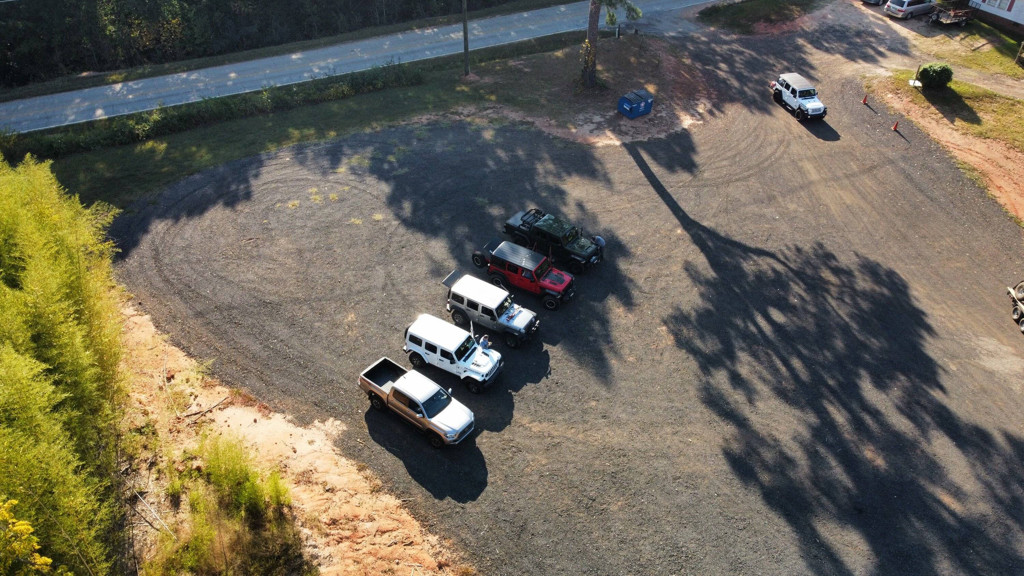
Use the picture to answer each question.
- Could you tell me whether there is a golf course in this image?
No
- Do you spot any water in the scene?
No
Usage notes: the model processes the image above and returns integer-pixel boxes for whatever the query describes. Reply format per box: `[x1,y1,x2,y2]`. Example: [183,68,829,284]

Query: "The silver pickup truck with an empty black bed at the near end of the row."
[354,353,482,451]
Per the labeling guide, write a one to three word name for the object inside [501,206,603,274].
truck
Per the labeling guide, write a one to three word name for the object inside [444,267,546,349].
car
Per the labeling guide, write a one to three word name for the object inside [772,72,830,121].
car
